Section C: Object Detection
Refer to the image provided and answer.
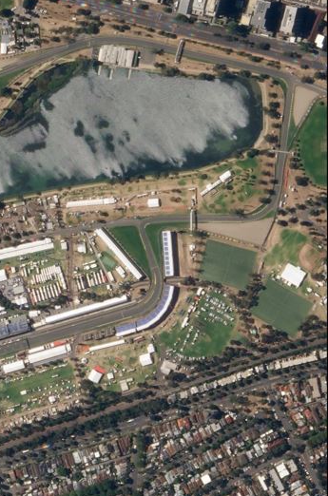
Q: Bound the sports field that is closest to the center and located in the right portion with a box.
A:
[201,239,257,289]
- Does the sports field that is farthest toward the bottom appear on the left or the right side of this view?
right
